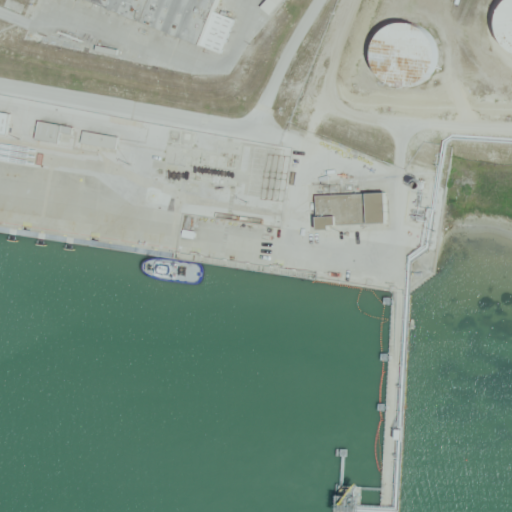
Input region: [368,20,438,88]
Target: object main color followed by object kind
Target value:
white storage tank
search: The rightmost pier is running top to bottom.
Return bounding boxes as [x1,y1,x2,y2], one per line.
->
[380,291,412,512]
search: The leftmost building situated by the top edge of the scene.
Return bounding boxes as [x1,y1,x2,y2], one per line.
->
[196,0,237,54]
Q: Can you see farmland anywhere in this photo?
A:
No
